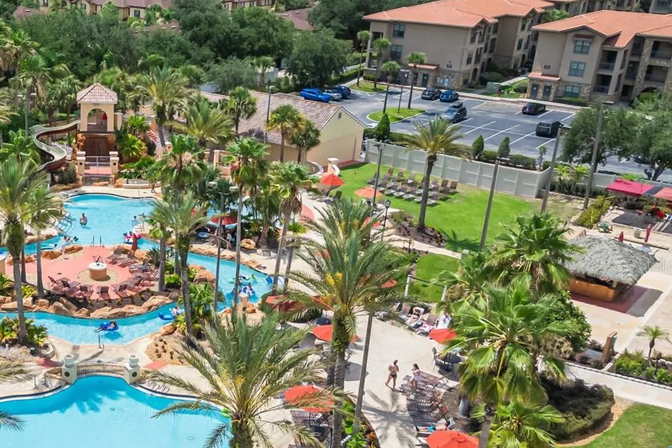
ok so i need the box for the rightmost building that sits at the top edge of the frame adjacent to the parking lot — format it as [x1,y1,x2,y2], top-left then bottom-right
[528,2,672,113]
